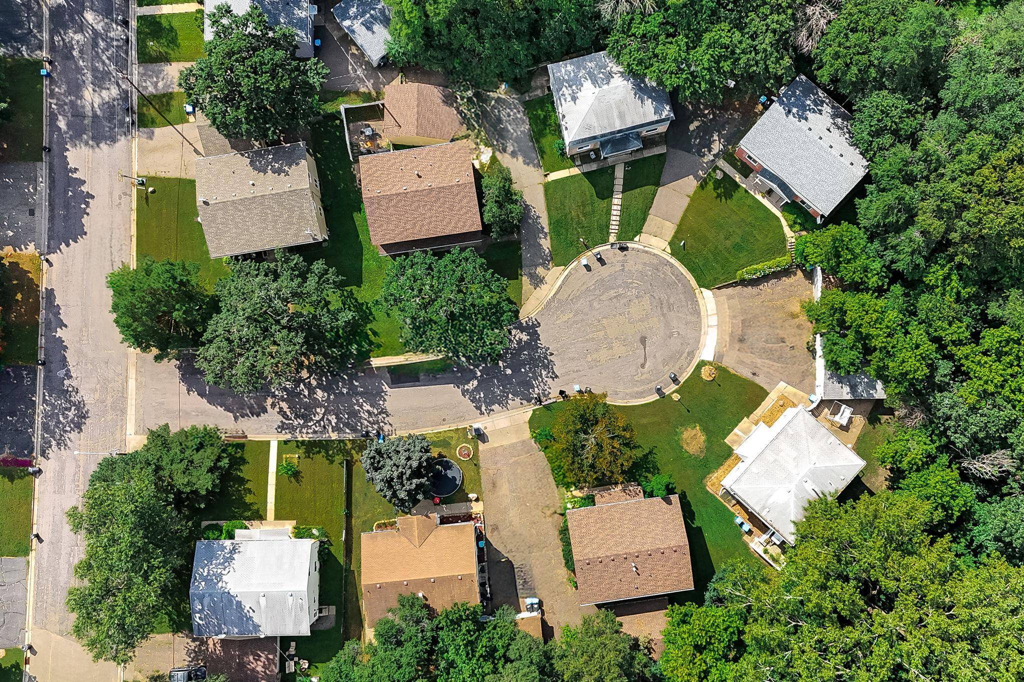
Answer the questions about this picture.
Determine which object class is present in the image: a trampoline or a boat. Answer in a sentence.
Visible in the photo is a trampoline.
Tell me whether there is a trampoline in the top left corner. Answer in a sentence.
No, no trampoline can be made out in the top left corner.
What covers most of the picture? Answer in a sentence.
Most of the picture is covered by trees.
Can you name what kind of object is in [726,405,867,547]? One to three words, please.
house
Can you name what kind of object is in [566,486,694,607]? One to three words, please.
house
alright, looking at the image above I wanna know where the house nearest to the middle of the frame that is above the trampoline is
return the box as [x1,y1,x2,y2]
[359,139,483,261]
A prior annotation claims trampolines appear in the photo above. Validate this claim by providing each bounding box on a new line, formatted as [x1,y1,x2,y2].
[427,459,464,496]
